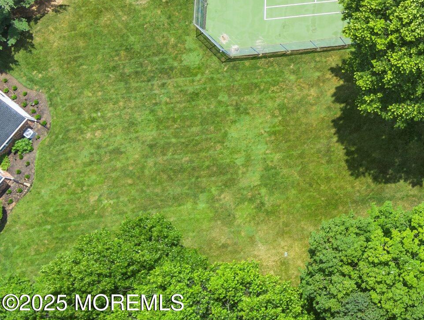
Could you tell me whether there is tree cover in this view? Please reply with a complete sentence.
Yes, the picture does contain tree cover.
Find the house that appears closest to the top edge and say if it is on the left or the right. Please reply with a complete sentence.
It is on the left.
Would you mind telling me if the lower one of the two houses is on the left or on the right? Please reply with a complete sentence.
The lower one of the two houses is on the left side of the image.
